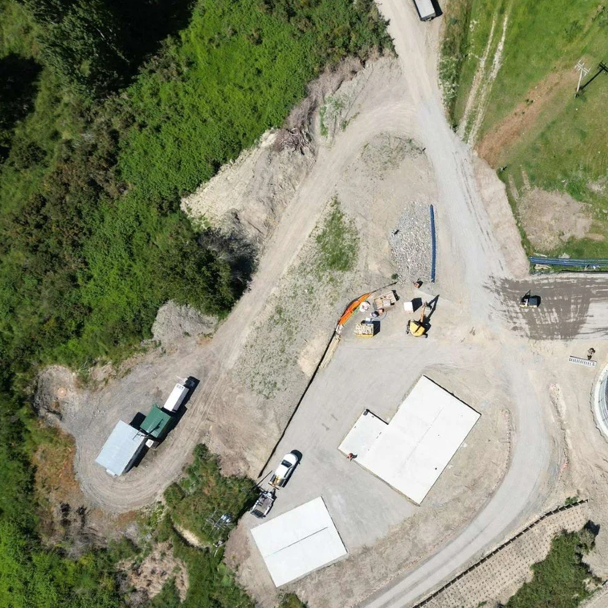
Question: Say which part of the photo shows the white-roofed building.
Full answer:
The white-roofed building is located in the bottom left region of the scene.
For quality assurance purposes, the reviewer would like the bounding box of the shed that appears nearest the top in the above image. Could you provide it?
[134,405,174,438]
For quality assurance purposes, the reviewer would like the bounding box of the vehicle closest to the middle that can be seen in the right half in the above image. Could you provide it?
[407,301,429,339]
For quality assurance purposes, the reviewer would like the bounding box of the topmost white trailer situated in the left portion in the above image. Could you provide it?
[157,376,191,414]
